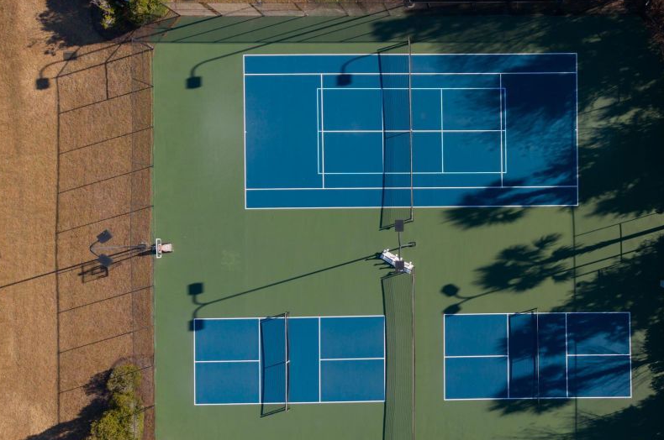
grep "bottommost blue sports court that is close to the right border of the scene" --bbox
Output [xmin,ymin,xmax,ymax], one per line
[443,312,632,401]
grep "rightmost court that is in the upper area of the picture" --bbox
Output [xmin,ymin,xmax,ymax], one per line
[244,51,579,209]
